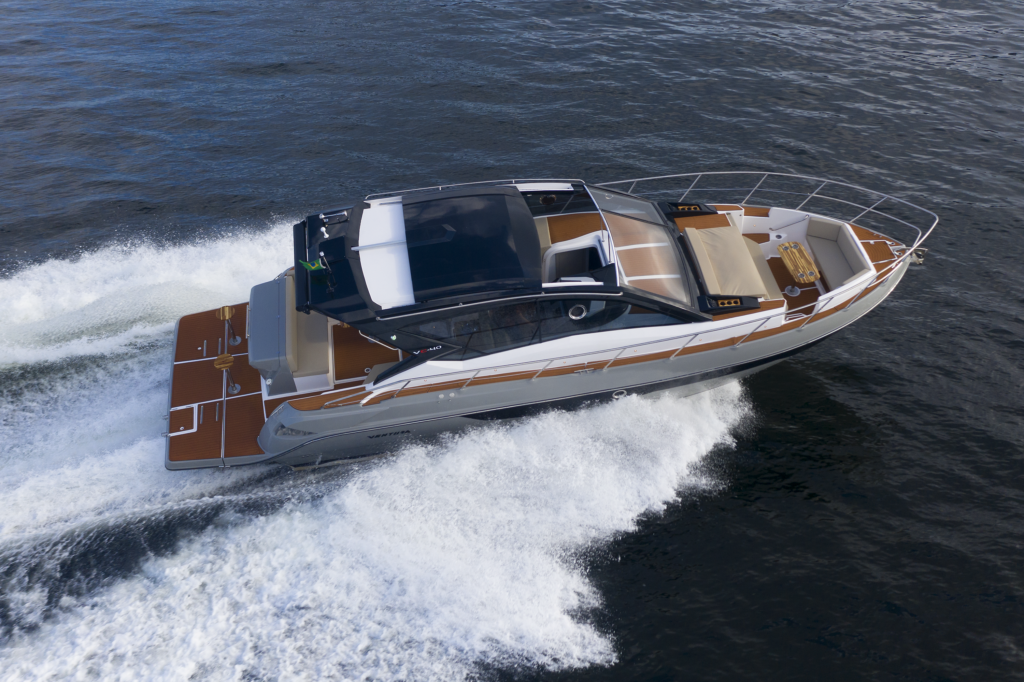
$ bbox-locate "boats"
[162,172,943,476]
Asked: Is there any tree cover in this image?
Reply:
No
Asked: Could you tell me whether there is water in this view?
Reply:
Yes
